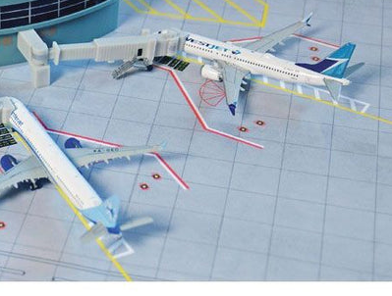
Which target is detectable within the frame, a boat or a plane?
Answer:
plane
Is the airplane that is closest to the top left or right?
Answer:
right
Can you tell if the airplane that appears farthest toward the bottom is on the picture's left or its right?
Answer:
left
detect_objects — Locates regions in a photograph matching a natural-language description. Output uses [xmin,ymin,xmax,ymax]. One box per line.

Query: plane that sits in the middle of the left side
[0,102,162,241]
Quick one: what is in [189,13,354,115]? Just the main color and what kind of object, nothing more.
white airplane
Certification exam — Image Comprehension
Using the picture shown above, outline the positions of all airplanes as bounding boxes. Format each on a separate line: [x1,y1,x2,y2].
[189,13,354,115]
[0,102,162,241]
